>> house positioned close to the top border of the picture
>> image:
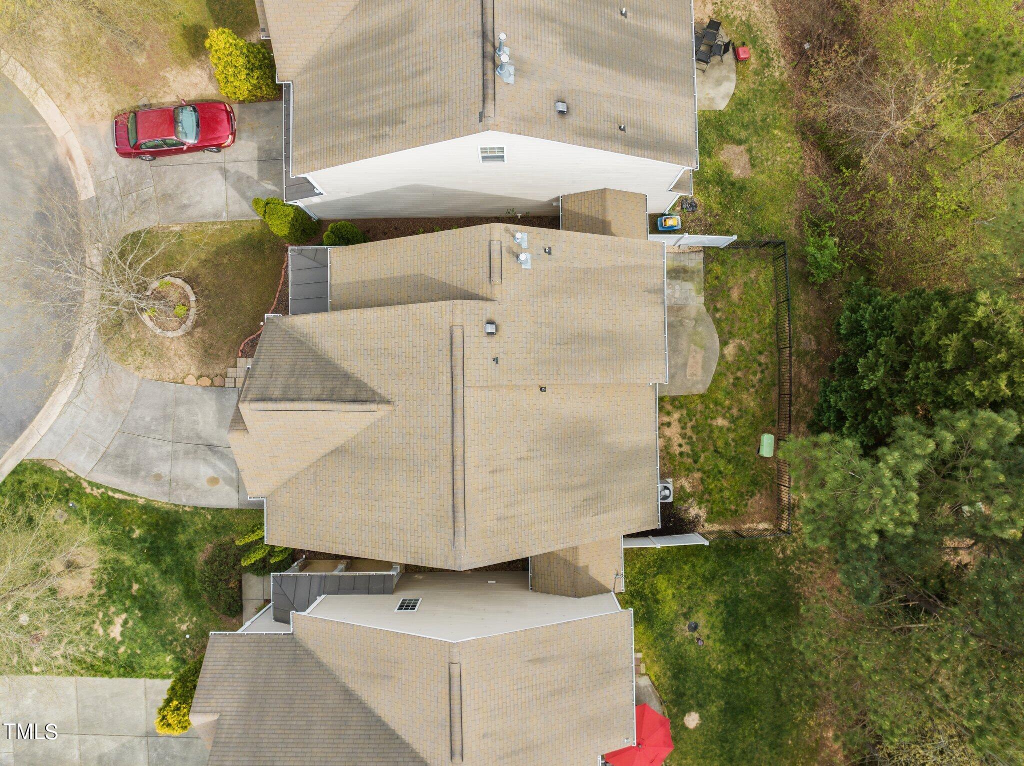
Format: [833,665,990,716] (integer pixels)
[246,0,701,240]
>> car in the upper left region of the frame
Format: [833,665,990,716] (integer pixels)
[108,98,236,163]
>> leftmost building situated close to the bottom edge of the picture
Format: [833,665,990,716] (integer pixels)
[184,546,639,766]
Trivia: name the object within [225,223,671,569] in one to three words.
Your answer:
house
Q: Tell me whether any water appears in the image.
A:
No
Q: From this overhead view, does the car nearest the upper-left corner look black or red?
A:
red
